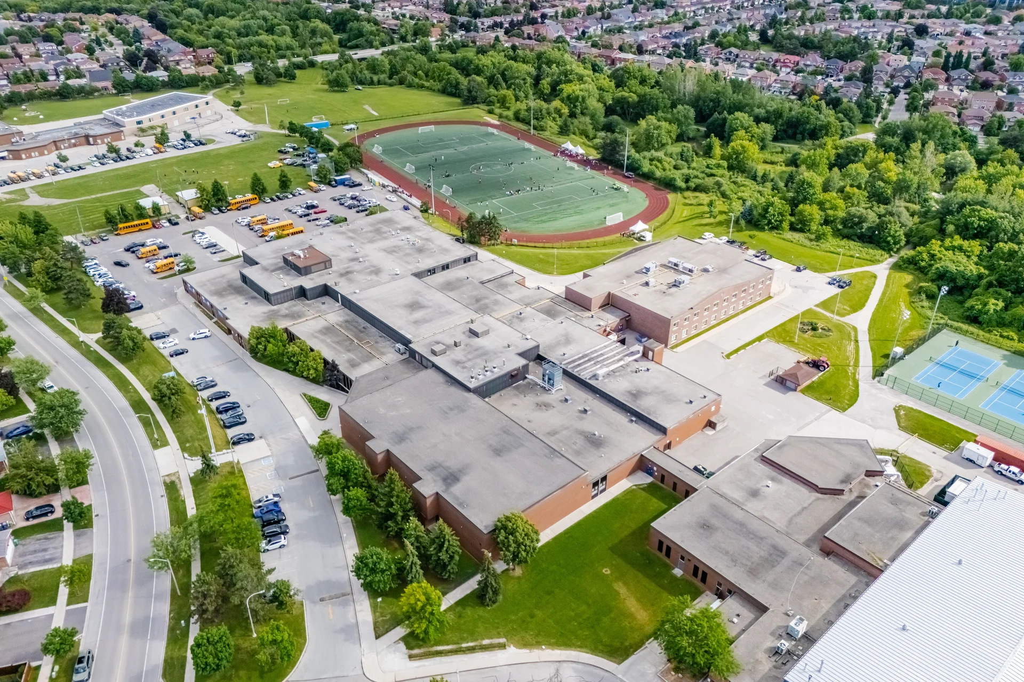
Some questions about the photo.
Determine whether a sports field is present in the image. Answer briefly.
Yes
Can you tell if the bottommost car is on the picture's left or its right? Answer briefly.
left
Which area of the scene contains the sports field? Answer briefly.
top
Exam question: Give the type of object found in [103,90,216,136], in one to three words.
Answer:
building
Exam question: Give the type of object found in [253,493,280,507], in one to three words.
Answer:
car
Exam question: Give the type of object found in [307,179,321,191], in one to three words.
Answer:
vehicle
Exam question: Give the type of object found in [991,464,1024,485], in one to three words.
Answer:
truck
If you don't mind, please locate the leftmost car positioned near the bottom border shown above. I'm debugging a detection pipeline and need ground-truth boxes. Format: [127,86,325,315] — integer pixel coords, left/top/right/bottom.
[71,649,94,680]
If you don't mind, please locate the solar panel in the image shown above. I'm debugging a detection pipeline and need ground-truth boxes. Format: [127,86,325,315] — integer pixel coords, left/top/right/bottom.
[110,91,207,115]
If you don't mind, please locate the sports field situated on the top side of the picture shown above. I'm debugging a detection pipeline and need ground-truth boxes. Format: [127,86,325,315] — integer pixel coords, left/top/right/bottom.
[364,124,647,234]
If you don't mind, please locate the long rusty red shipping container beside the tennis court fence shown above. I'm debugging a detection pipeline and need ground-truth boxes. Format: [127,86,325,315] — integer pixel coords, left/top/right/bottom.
[976,432,1024,469]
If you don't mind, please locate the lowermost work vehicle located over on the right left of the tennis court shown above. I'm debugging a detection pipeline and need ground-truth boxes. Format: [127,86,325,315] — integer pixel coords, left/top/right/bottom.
[793,358,826,373]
